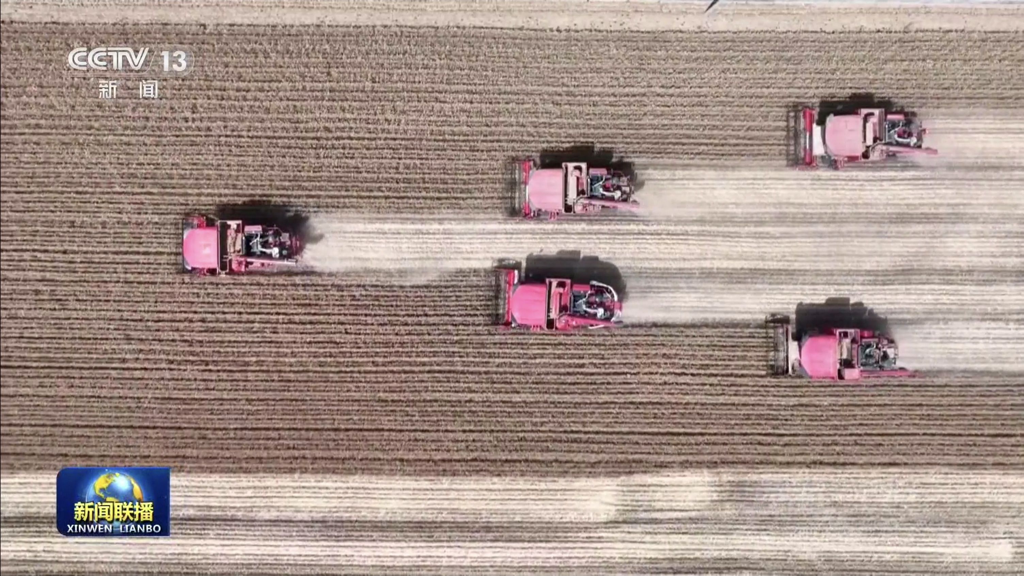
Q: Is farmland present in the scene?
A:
Yes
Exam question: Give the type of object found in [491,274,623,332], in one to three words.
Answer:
work vehicle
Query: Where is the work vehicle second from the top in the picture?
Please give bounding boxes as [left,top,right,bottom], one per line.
[506,161,642,222]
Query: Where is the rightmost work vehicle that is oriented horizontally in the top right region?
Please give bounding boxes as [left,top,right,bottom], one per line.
[782,107,939,171]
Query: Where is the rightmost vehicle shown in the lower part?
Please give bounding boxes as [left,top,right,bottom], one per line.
[765,322,913,381]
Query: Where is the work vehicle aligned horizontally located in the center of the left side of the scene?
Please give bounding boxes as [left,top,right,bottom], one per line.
[181,218,311,276]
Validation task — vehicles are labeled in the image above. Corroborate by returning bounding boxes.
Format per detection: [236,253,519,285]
[491,274,623,332]
[506,161,642,222]
[181,218,311,276]
[782,107,939,171]
[765,322,913,381]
